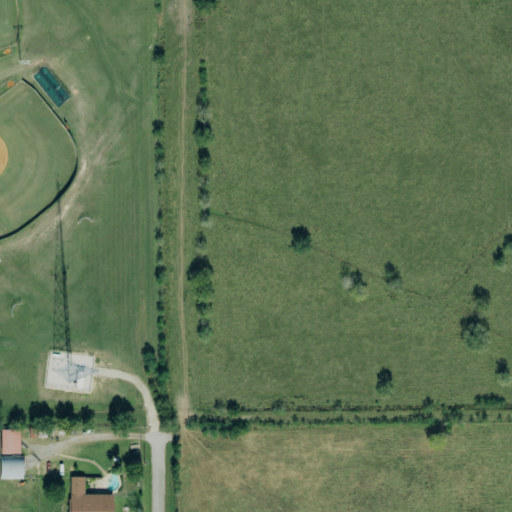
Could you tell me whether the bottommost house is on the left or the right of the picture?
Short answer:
left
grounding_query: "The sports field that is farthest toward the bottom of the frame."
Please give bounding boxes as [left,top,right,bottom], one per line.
[0,79,77,238]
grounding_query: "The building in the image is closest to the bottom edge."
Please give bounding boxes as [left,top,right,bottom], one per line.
[70,477,116,512]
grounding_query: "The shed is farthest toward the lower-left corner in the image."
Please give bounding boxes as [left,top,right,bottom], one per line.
[0,456,26,479]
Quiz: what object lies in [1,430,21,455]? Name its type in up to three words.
barn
